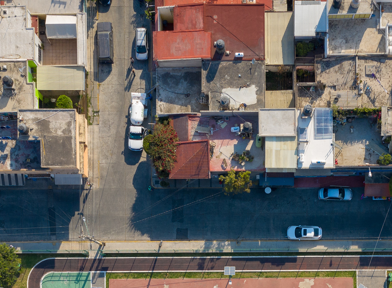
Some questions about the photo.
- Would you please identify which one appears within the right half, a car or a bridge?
car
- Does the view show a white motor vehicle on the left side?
Yes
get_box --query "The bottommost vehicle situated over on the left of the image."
[127,94,148,151]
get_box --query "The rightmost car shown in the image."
[318,186,352,203]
